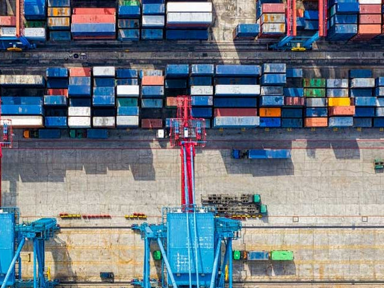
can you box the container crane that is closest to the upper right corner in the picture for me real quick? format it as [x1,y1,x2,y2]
[261,0,330,52]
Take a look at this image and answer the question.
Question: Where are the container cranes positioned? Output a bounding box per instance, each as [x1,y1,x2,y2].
[134,96,242,288]
[0,96,69,288]
[261,0,330,52]
[0,0,44,52]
